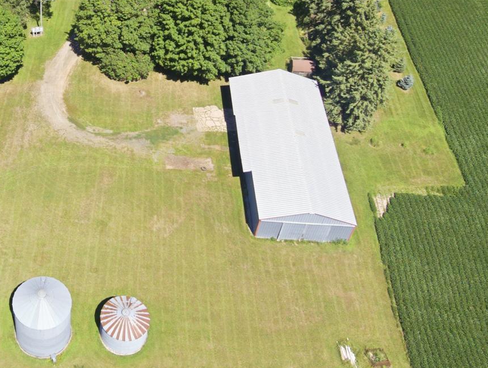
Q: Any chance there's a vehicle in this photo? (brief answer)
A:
No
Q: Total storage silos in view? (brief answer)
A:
two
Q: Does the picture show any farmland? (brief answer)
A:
Yes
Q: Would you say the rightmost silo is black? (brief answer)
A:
No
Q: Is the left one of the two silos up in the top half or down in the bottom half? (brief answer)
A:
bottom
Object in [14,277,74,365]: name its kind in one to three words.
silo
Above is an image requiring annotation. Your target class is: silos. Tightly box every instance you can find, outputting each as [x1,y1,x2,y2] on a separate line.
[98,296,150,356]
[14,277,74,365]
